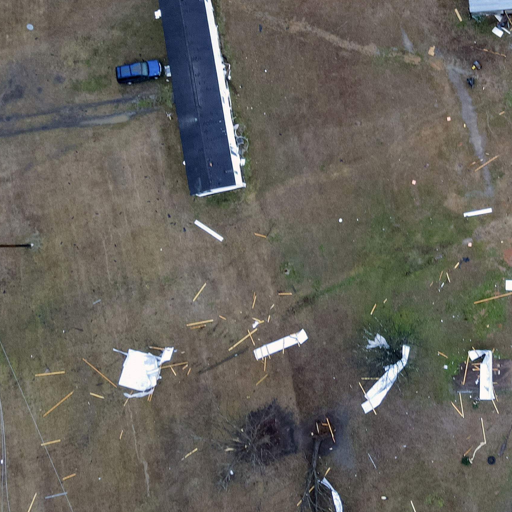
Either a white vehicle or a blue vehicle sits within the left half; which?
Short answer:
blue vehicle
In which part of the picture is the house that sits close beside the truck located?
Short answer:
top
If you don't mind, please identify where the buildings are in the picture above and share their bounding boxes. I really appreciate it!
[469,0,512,21]
[159,0,246,197]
